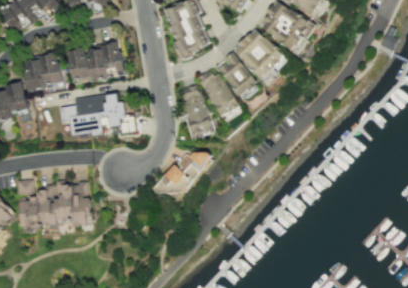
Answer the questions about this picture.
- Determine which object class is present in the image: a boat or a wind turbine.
boat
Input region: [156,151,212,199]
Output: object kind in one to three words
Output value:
house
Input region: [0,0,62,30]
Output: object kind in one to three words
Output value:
house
